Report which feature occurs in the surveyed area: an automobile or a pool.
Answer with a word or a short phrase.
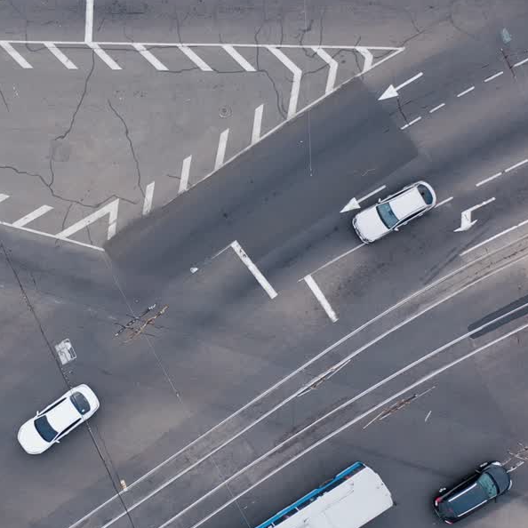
automobile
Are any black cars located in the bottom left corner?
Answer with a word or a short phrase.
No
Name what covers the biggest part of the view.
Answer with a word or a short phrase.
paved ground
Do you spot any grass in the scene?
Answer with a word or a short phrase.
No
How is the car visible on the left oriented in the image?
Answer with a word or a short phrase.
diagonally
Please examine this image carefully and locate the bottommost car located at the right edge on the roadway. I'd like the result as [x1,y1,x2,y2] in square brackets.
[430,462,506,525]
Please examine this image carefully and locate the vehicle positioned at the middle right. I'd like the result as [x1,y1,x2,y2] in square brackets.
[351,183,435,245]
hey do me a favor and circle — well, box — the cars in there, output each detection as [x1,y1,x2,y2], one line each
[18,386,99,454]
[430,462,506,525]
[351,183,435,245]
